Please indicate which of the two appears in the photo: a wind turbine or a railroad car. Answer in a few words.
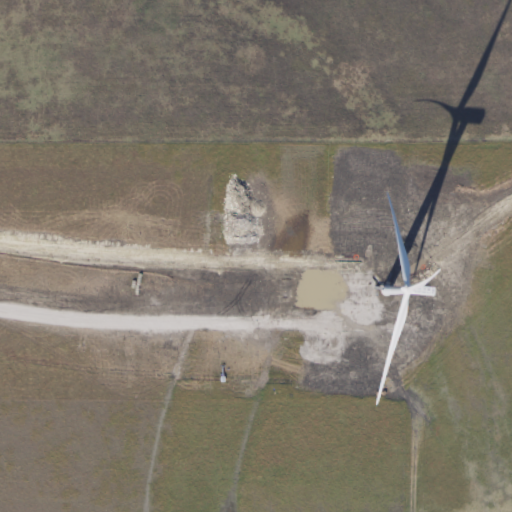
wind turbine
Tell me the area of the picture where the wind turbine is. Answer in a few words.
right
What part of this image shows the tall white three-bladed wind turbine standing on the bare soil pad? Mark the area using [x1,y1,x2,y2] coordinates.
[377,188,440,403]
